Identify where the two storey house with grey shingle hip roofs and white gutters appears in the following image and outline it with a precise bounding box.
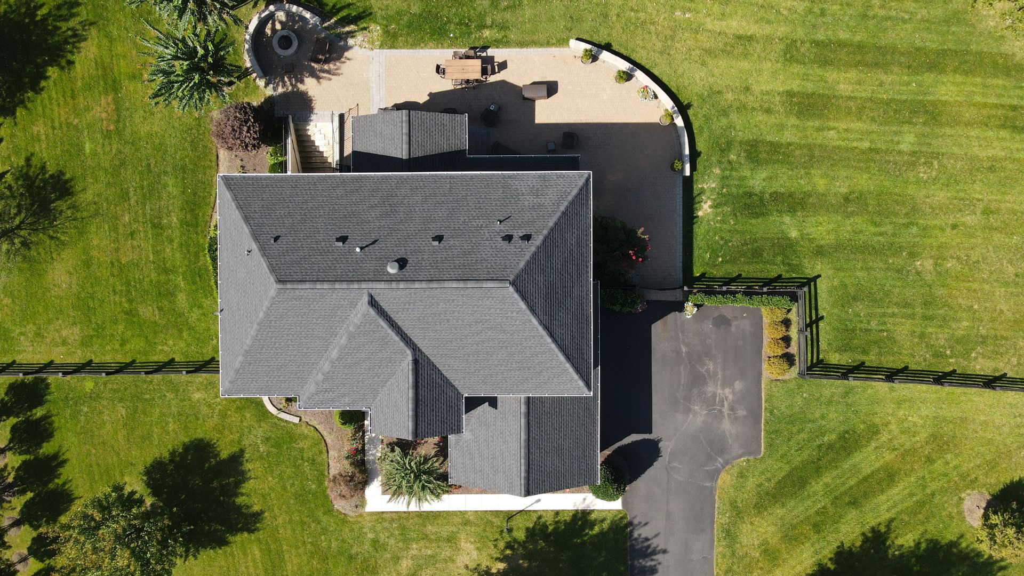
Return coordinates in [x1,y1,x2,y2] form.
[209,109,601,496]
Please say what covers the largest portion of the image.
grass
